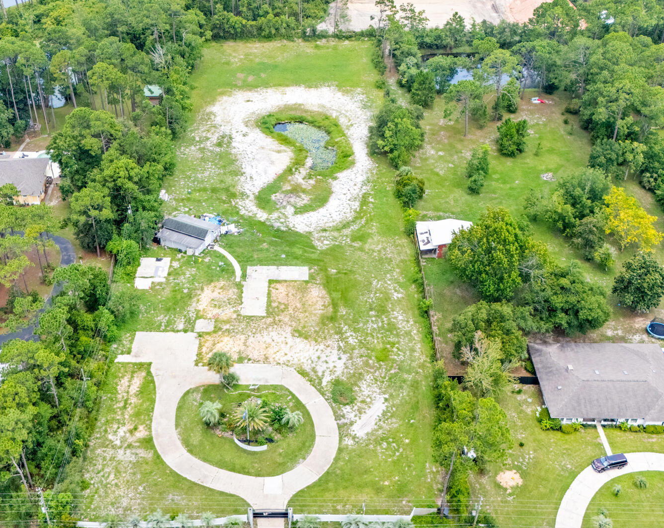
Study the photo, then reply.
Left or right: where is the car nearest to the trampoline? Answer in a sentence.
It is on the right.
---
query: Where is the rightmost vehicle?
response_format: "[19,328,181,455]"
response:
[589,449,628,471]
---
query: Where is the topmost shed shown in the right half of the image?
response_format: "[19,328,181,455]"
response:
[416,219,472,260]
